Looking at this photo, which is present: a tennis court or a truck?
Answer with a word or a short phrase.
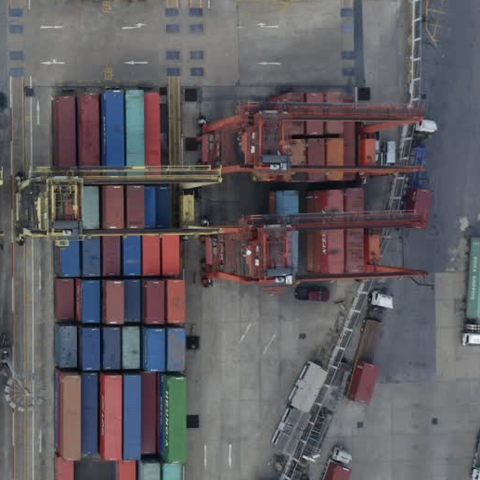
truck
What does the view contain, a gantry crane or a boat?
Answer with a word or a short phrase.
gantry crane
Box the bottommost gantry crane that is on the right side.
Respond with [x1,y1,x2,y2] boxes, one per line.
[201,203,434,289]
